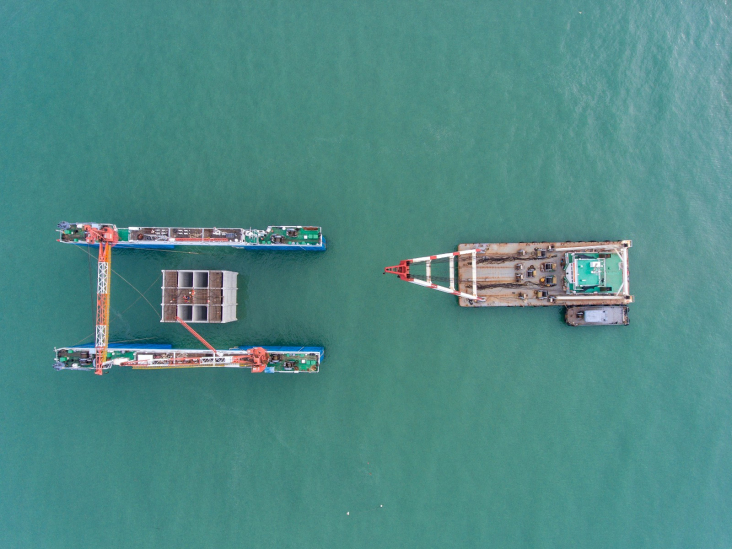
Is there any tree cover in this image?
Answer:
No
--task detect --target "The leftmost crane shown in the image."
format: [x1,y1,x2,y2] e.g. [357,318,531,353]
[84,221,125,375]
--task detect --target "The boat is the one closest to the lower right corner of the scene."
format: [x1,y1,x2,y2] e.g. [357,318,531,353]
[564,305,629,327]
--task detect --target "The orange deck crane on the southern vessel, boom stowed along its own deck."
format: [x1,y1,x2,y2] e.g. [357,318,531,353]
[118,349,272,372]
